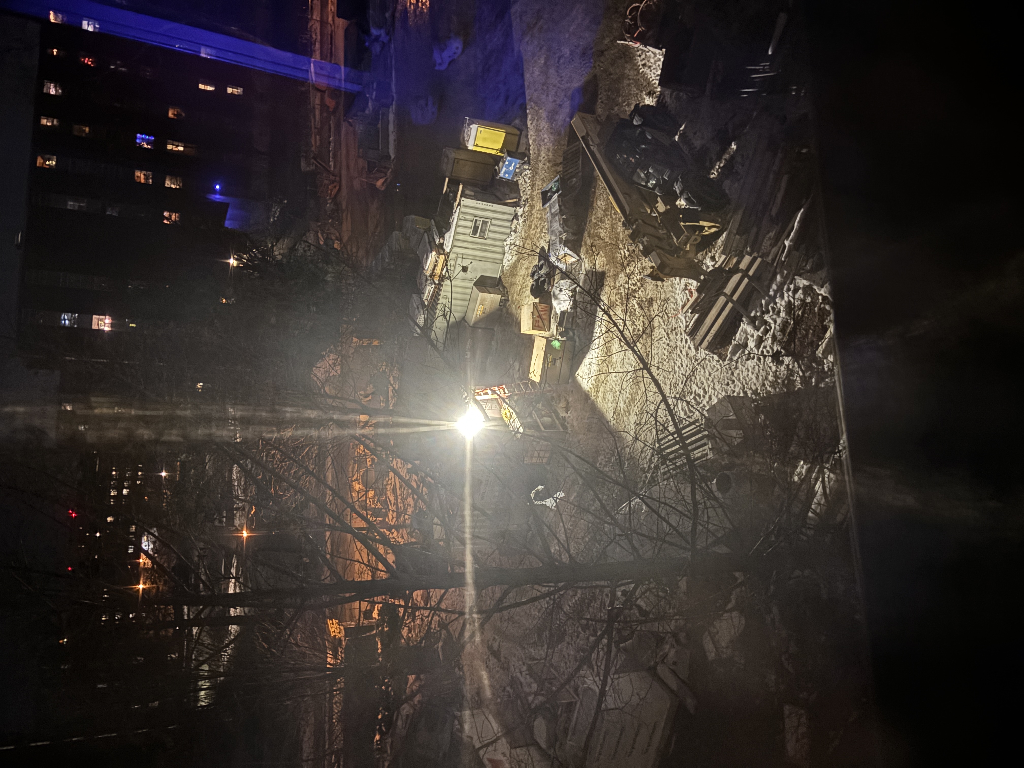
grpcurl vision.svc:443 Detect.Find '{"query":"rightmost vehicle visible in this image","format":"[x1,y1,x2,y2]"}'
[572,104,704,331]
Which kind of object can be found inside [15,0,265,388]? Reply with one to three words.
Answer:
building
